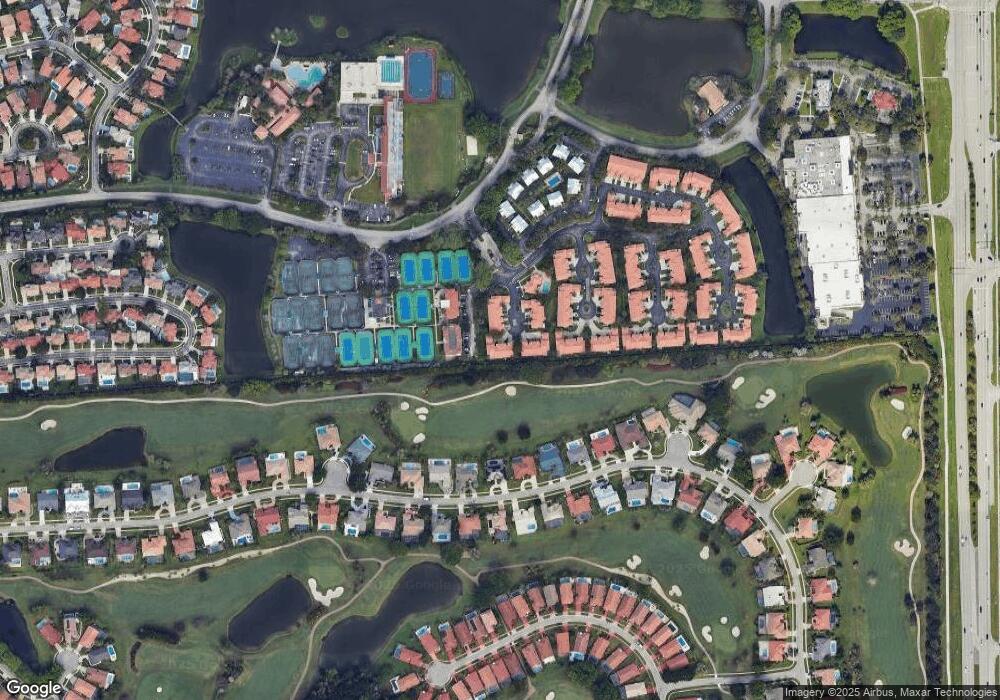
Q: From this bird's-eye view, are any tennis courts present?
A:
Yes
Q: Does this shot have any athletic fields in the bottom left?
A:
No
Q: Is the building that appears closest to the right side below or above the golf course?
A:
above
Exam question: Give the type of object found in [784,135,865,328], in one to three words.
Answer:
building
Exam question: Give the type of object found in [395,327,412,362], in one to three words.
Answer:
tennis court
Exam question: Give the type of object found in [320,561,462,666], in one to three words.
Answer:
pond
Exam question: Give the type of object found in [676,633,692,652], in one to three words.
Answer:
swimming pool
